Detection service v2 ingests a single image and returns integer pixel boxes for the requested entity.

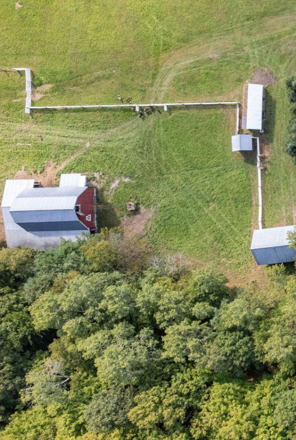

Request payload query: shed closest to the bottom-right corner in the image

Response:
[252,224,296,265]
